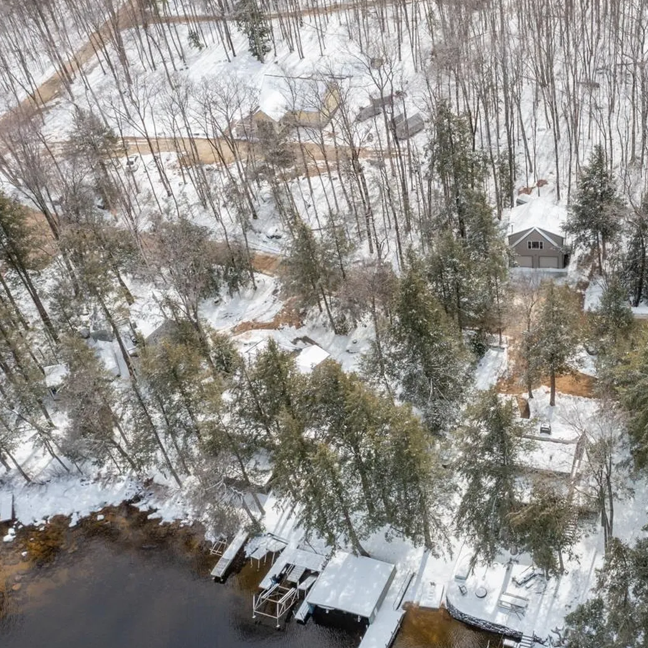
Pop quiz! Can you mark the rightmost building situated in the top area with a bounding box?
[506,191,573,270]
